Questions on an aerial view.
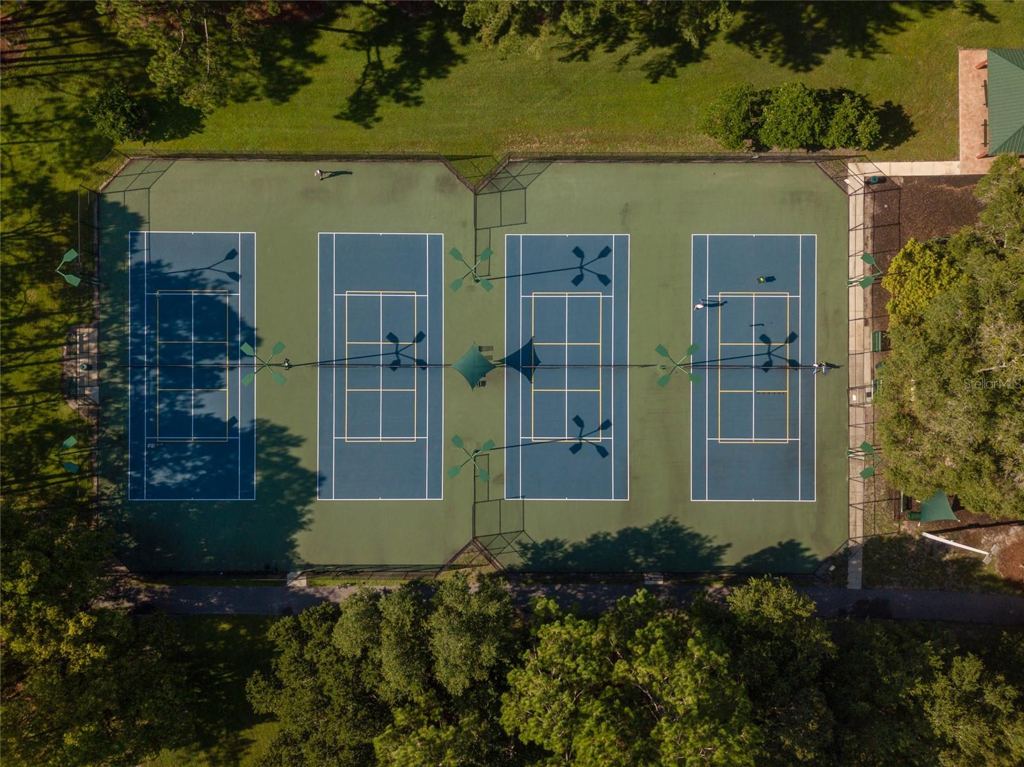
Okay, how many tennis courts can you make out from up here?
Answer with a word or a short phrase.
4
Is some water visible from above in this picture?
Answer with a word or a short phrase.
No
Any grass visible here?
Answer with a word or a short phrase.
Yes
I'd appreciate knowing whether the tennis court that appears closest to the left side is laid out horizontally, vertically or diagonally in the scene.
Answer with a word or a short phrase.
vertically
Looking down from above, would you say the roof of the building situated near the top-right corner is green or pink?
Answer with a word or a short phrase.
green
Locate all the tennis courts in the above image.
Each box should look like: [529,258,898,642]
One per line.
[319,233,443,499]
[506,235,629,500]
[129,232,255,500]
[692,235,816,501]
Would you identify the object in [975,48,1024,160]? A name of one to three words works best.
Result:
building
